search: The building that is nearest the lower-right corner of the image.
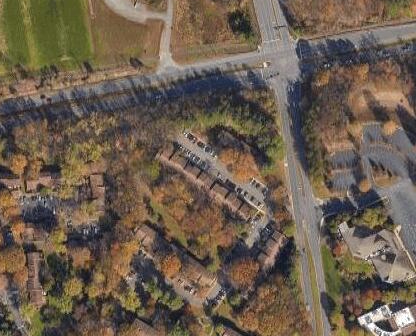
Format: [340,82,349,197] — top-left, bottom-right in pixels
[358,304,416,336]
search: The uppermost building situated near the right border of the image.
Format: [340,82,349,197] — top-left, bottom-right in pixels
[337,222,416,285]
